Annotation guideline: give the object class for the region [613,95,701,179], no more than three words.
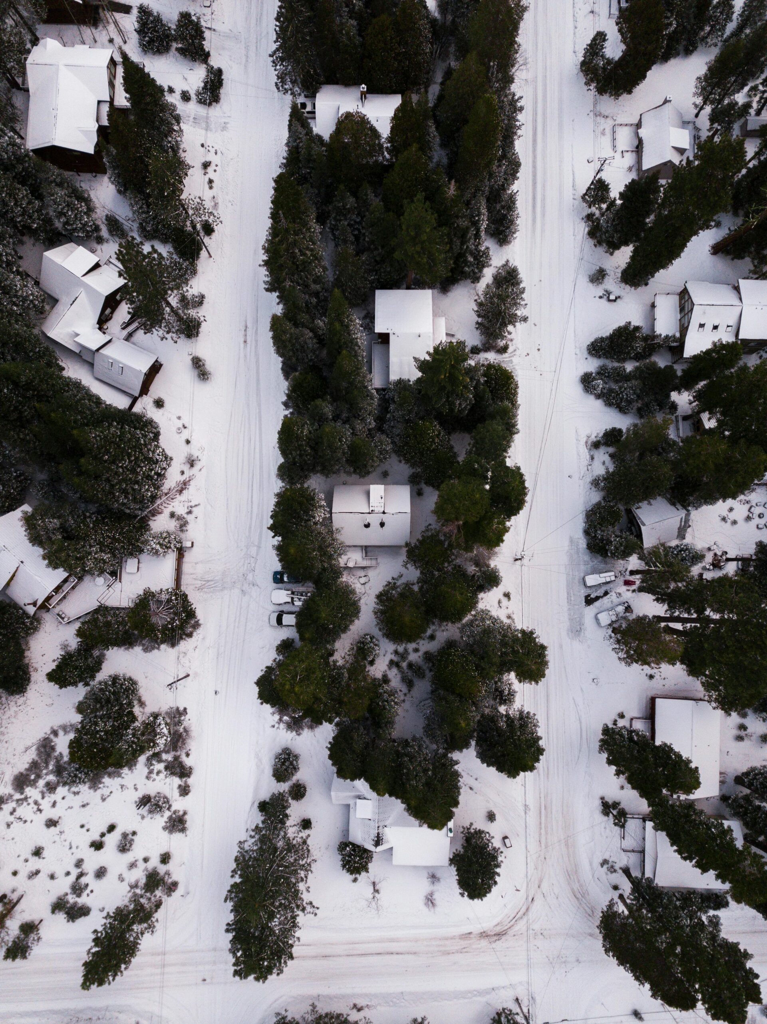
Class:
house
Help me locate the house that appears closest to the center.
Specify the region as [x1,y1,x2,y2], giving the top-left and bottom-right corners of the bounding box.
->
[332,485,411,571]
